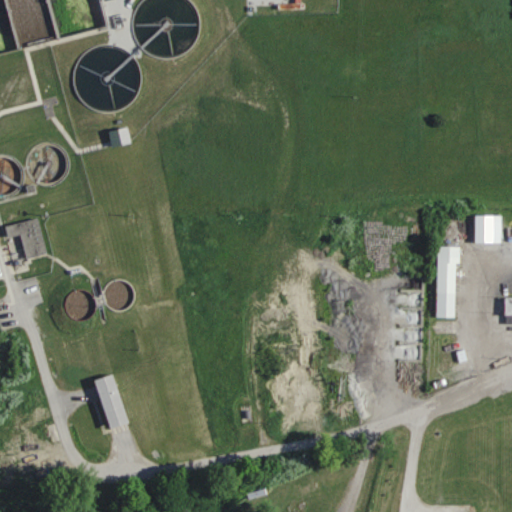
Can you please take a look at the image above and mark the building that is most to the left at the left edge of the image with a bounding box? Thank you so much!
[4,218,46,259]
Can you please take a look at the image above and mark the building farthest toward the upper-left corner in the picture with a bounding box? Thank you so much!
[104,126,131,148]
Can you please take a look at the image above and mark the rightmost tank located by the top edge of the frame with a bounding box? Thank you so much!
[133,0,201,59]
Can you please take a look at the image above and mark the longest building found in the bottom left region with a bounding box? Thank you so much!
[94,375,128,430]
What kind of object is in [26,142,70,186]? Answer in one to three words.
storage tank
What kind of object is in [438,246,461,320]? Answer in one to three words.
barn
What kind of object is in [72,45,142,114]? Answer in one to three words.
storage tank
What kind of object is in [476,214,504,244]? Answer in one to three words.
shed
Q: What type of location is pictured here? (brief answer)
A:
industrial area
